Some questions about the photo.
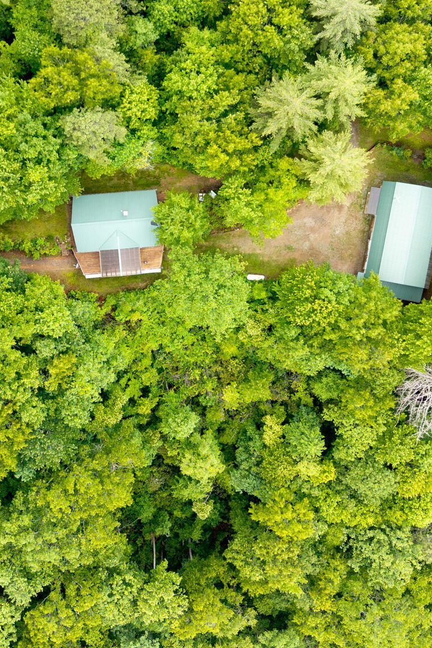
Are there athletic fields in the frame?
No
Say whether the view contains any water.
No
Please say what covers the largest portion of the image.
trees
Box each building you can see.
[70,189,164,278]
[363,181,432,301]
